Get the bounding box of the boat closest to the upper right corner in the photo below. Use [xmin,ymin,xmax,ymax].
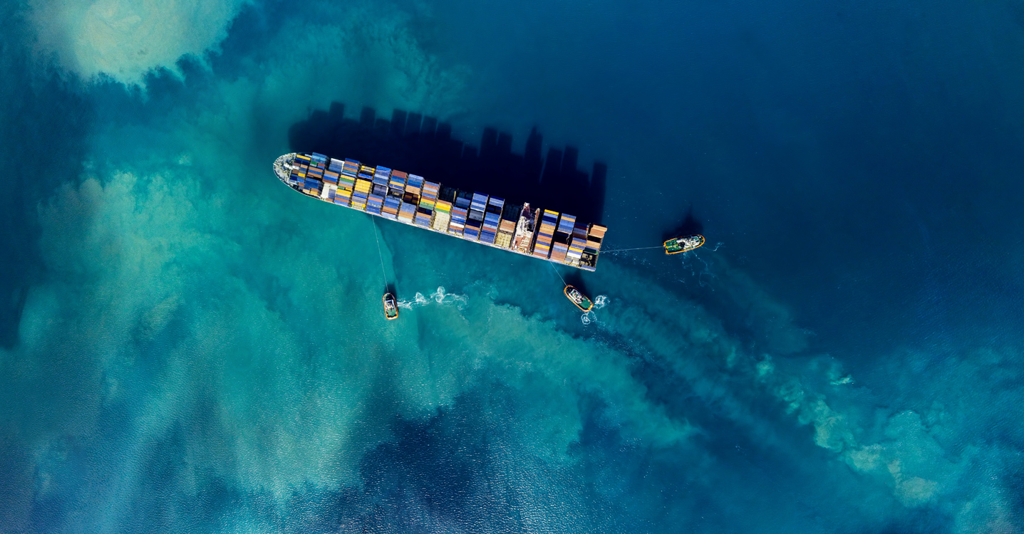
[665,236,705,254]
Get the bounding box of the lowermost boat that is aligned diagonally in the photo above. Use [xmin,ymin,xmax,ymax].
[564,285,595,315]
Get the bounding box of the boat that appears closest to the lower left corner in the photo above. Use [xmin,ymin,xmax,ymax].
[383,292,398,320]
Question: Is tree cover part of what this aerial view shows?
No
